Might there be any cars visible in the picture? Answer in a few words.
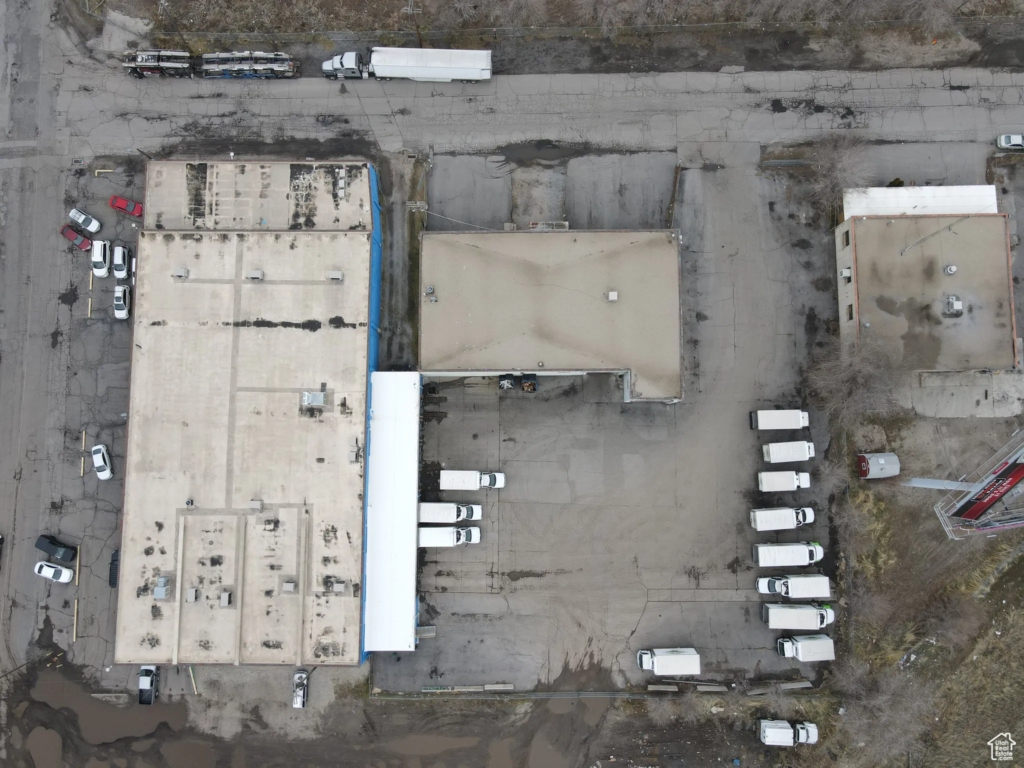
Yes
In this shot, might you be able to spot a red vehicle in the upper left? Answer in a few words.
Yes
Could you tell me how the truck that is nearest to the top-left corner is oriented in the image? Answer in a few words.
horizontally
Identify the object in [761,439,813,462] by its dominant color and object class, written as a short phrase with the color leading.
white truck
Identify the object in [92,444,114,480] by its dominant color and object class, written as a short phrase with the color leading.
white car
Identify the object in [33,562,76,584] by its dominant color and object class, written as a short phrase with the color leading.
white car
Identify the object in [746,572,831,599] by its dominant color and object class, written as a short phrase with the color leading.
white truck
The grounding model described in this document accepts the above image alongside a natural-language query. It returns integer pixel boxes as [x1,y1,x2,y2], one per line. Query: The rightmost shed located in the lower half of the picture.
[858,452,910,480]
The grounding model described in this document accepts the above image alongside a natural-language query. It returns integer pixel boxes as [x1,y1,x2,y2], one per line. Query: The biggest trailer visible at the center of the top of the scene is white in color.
[372,48,492,84]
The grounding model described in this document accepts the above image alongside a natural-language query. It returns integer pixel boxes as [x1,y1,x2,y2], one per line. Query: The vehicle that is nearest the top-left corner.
[121,52,207,84]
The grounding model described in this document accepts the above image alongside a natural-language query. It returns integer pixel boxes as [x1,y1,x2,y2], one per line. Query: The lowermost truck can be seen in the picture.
[743,717,815,745]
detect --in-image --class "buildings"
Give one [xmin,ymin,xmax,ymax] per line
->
[836,214,1018,375]
[858,452,910,480]
[419,230,683,407]
[115,181,381,665]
